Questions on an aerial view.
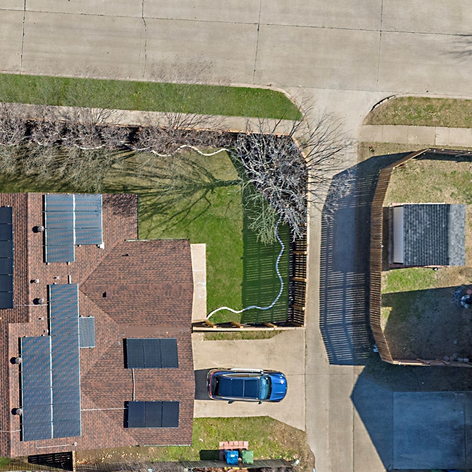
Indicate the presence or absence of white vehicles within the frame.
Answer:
No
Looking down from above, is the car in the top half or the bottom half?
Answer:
bottom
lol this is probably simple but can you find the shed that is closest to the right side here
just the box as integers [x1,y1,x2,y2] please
[391,204,465,265]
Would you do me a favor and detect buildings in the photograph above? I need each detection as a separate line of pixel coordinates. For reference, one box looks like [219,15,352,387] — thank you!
[0,191,194,458]
[391,204,465,265]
